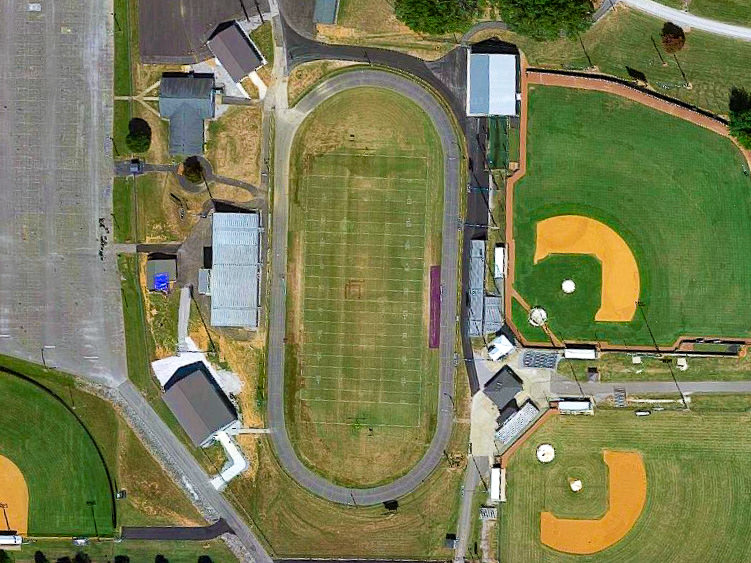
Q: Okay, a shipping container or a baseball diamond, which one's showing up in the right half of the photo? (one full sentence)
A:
What appears in the right half of the photo is a baseball diamond.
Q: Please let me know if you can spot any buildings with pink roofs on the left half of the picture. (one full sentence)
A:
No, I can find no building with a pink roof on the left half of the picture.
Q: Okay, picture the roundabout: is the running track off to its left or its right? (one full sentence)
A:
Looking at the picture, you'll find the running track to the right of the roundabout.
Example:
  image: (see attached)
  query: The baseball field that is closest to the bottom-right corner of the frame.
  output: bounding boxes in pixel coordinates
[499,409,751,563]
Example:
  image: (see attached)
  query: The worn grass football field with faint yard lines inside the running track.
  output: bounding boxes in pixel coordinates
[284,87,444,489]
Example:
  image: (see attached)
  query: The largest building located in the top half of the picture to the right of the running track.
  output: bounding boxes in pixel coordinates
[470,54,522,114]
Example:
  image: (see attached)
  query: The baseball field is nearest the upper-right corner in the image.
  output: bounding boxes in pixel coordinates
[505,48,751,359]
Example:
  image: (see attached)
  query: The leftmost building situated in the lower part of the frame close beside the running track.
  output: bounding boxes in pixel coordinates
[162,369,242,446]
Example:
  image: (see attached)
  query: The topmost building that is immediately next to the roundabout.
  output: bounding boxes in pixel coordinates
[157,78,224,153]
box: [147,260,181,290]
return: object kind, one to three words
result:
building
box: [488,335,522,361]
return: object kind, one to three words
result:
building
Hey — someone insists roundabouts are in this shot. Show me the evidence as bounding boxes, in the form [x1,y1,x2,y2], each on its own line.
[176,155,214,192]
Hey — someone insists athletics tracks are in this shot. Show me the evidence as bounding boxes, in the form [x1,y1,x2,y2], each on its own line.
[267,72,461,505]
